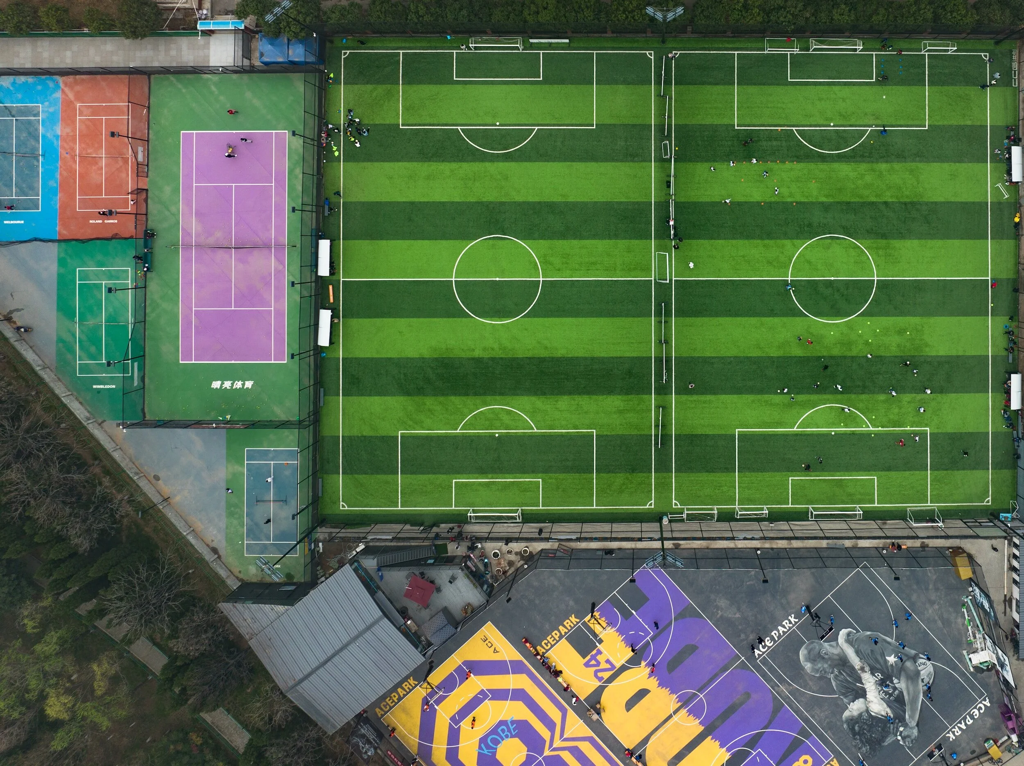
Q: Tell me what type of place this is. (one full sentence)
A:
The area seen from above is a sports ground.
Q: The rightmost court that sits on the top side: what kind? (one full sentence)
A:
The rightmost court that sits on the top side is a tennis court.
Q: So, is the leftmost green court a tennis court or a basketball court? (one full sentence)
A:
It looks like the leftmost green court is a tennis court.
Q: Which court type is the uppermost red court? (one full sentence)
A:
The uppermost red court in the image is a tennis court.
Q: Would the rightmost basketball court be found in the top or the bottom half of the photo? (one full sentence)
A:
You can find the rightmost basketball court in the bottom half.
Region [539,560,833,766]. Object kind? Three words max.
basketball court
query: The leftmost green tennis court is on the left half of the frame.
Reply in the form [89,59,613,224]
[56,240,147,421]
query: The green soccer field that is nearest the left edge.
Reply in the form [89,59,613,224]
[319,37,663,523]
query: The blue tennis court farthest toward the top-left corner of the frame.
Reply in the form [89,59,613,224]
[0,76,61,240]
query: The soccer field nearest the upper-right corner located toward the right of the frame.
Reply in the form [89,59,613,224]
[663,38,1018,521]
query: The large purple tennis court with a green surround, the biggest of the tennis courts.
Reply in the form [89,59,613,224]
[145,74,316,420]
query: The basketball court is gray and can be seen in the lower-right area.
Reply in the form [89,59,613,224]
[756,563,987,766]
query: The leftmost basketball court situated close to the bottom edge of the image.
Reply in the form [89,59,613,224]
[378,622,620,766]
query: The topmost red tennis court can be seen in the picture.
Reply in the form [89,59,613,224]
[58,75,150,239]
